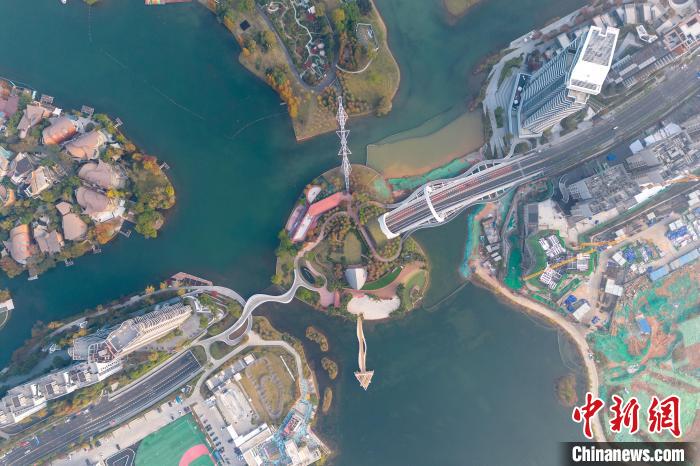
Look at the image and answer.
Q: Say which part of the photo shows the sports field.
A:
bottom left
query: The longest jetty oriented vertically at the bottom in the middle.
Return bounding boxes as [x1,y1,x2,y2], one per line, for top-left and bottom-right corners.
[354,315,375,389]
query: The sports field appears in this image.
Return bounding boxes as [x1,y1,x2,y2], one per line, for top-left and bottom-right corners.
[137,413,227,466]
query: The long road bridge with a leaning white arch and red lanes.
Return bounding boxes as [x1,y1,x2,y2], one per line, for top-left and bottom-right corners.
[373,141,548,240]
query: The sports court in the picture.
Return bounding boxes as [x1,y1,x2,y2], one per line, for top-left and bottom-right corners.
[105,441,142,466]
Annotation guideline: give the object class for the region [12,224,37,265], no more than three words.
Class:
house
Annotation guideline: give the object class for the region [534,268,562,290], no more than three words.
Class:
building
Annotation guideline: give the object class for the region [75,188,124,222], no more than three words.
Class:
house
